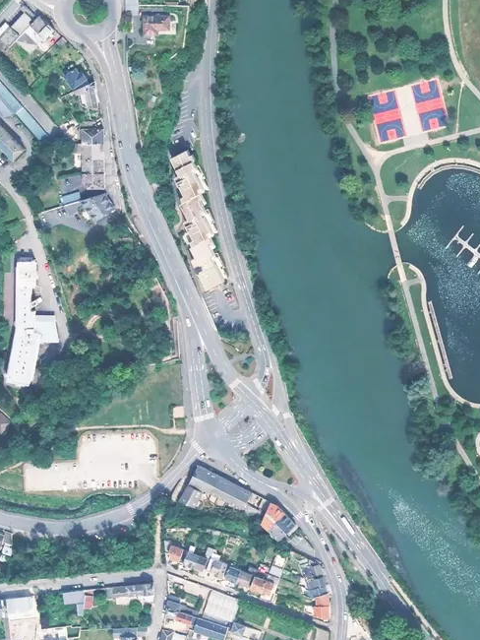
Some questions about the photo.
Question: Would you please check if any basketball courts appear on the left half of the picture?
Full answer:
No, there's no basketball court to be seen on the left half of the picture.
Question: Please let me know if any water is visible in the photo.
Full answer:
Yes, there's water in this view.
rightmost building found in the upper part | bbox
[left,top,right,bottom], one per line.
[169,151,228,289]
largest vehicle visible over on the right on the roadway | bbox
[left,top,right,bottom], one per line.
[340,514,355,535]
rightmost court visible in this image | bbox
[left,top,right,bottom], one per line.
[411,78,448,133]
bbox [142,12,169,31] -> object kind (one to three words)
house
